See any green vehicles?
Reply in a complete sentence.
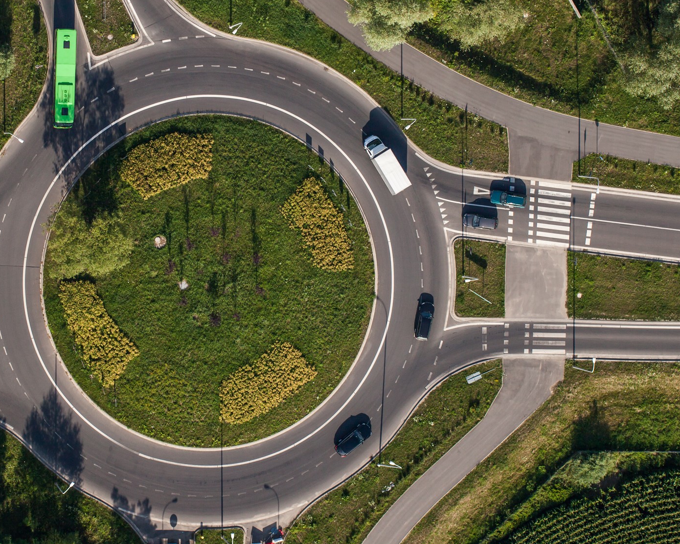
Yes, there's a green vehicle here.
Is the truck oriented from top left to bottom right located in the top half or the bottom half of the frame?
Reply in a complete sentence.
The truck oriented from top left to bottom right sits in the top half of the picture.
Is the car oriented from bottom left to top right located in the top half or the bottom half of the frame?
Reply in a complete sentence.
It is in the bottom half that the car oriented from bottom left to top right appears.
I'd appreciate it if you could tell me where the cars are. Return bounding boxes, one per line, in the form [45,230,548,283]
[463,213,498,231]
[415,301,436,341]
[490,188,527,207]
[335,423,372,453]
